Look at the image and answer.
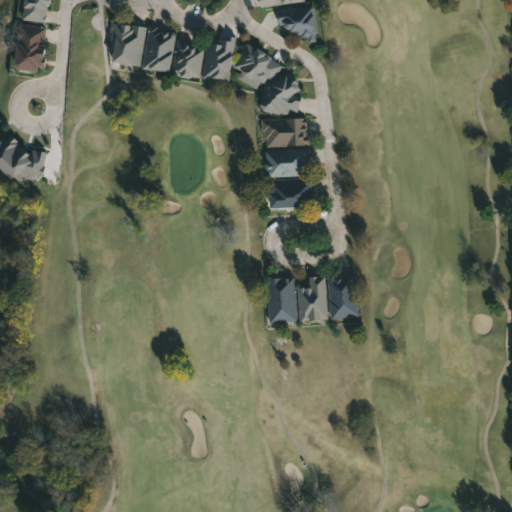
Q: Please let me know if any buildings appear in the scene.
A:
Yes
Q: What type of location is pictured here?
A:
golf course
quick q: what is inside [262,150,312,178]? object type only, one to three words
house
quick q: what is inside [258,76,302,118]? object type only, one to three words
house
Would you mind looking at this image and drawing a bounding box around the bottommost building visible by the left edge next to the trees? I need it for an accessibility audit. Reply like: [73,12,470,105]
[0,136,49,180]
